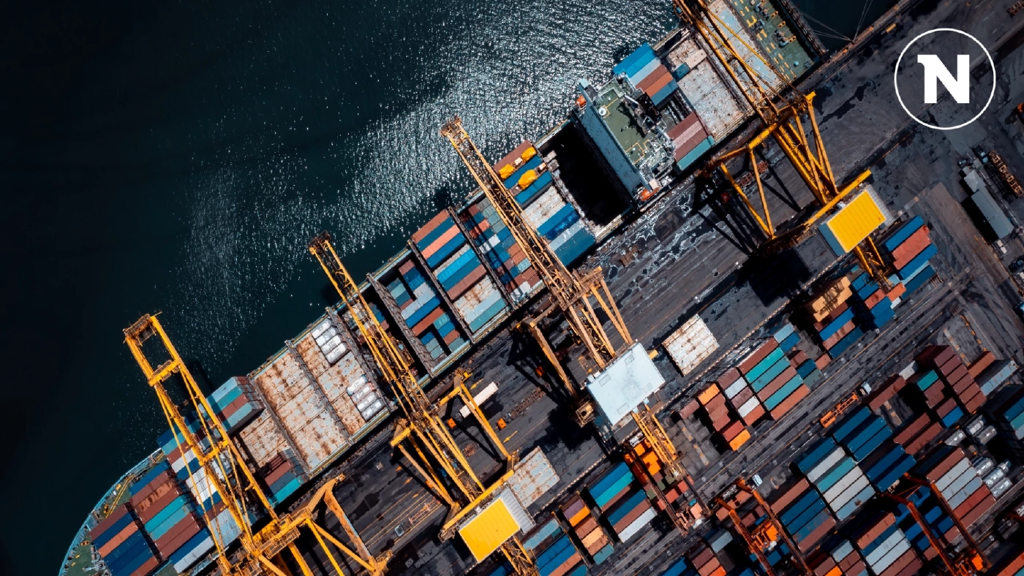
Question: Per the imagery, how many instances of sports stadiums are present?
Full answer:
The count of sports stadiums is 0.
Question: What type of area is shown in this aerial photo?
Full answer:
The area seen from above is a port.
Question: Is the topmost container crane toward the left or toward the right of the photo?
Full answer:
The topmost container crane appears in the right half of the scene.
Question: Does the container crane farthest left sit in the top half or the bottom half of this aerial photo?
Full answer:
The container crane farthest left is in the bottom half of the image.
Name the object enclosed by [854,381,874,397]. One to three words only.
vehicle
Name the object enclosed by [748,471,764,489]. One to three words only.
vehicle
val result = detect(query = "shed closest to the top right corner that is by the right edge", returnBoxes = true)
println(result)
[953,168,1018,240]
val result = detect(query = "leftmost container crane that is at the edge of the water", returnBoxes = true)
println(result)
[119,310,403,576]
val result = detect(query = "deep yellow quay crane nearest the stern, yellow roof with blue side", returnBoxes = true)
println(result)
[674,0,901,279]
